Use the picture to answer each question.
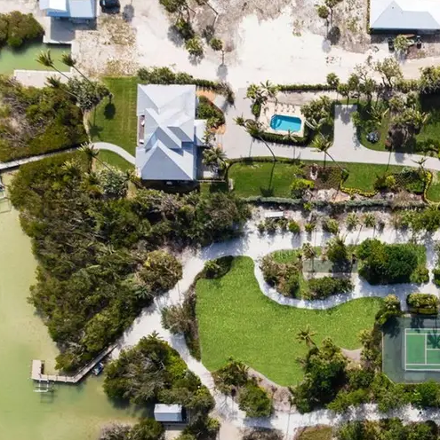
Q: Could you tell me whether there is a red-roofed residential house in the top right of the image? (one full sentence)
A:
No, no red-roofed residential house appears in the top right of the image.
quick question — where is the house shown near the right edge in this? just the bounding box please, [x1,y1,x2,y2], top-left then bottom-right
[369,0,440,31]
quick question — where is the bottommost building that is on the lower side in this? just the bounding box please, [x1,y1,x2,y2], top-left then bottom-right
[154,404,189,424]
